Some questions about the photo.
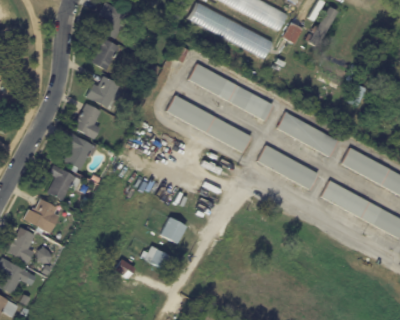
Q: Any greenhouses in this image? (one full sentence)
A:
Yes, the frame does contain a greenhouse.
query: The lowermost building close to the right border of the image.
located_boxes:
[322,180,400,240]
